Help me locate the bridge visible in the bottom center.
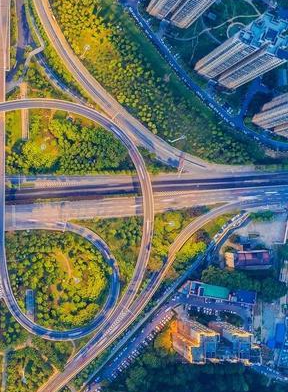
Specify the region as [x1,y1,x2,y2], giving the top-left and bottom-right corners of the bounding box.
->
[66,219,237,392]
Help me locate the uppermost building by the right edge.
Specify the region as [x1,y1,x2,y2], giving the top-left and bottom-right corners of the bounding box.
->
[191,13,288,88]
